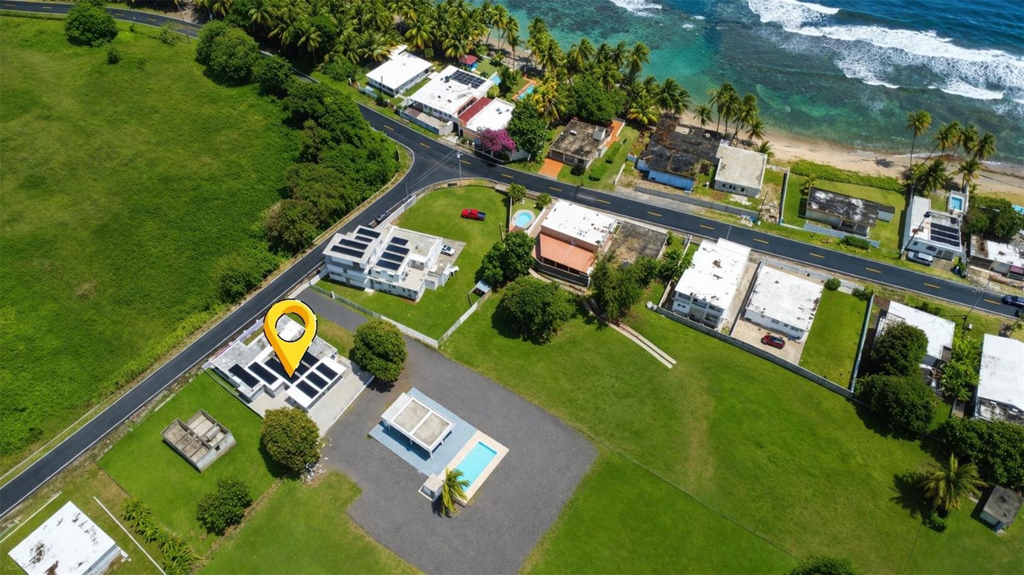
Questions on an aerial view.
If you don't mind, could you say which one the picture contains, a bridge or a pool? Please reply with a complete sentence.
Looking from above, you can make out a pool.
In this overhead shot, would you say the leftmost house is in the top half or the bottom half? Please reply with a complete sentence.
The leftmost house is in the bottom half of the image.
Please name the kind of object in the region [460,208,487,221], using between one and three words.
vehicle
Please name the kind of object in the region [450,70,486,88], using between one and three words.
solar panel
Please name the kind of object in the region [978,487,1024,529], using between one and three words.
shed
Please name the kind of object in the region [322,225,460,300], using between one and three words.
house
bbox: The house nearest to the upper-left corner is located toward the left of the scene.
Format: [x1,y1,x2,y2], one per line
[365,46,433,100]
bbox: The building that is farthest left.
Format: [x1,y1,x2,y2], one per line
[8,501,129,575]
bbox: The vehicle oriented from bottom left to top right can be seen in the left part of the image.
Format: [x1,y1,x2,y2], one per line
[371,209,392,224]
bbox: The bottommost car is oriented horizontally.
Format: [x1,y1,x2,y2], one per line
[761,334,789,349]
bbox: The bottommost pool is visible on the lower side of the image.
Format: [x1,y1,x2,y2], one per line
[437,428,509,505]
